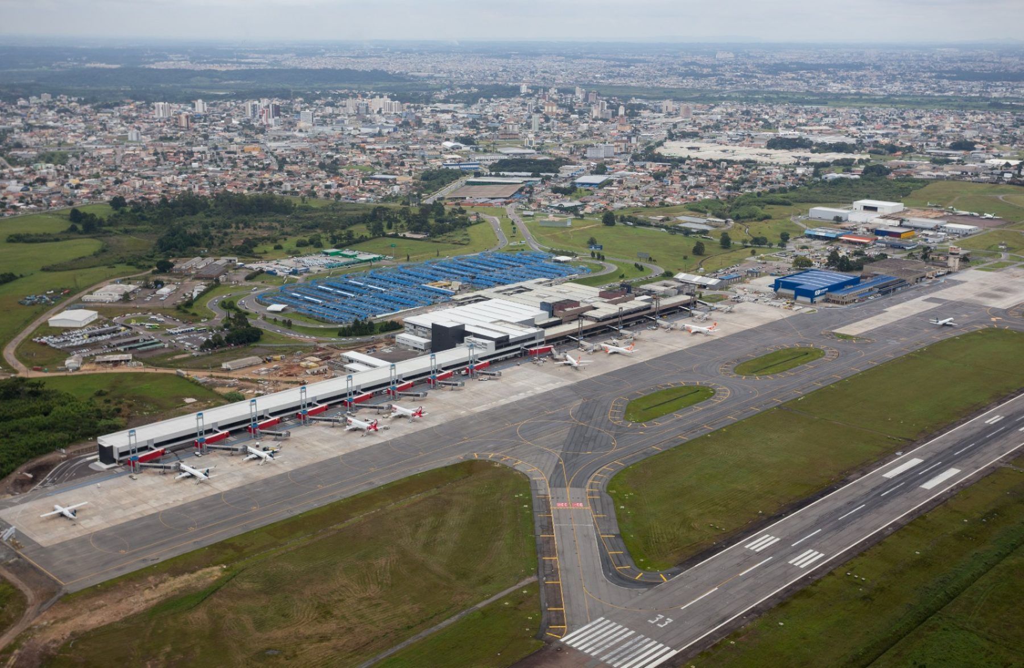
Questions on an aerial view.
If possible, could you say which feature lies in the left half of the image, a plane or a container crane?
plane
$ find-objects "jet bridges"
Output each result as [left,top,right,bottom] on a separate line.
[189,430,250,455]
[340,391,395,413]
[464,359,504,379]
[696,298,735,310]
[521,343,575,357]
[603,325,646,338]
[424,369,468,389]
[564,335,606,349]
[244,416,292,440]
[295,403,351,426]
[384,380,431,400]
[123,446,183,474]
[675,306,716,318]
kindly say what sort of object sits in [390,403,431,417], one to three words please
airplane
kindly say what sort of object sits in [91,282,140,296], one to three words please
shed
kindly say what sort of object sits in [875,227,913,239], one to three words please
building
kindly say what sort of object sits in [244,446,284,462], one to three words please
airplane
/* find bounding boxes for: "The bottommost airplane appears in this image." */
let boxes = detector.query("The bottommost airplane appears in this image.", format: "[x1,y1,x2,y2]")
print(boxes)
[43,501,88,516]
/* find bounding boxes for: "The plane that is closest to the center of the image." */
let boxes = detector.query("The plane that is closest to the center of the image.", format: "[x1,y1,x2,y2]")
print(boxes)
[554,354,594,367]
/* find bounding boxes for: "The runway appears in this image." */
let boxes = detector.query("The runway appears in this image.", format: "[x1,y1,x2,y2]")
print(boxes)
[550,393,1024,668]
